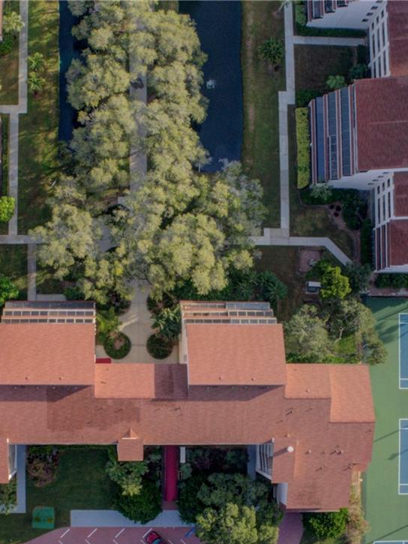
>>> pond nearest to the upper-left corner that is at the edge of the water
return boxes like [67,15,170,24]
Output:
[60,0,94,156]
